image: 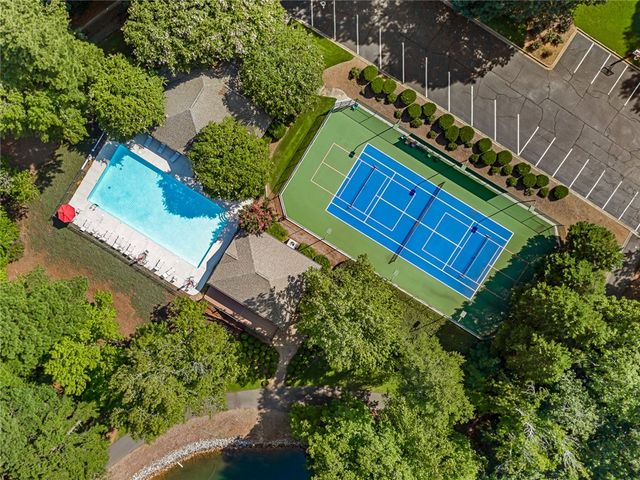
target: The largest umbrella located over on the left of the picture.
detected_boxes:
[59,204,78,222]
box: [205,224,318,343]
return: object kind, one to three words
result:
building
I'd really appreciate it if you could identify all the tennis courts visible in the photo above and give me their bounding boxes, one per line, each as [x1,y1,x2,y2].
[279,99,560,340]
